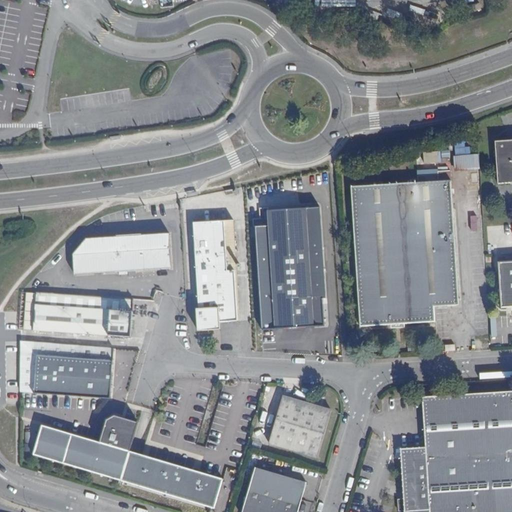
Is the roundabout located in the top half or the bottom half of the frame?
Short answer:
top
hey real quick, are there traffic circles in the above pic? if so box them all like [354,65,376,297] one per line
[238,50,352,165]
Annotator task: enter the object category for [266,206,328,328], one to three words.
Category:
building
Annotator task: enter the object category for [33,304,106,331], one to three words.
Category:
building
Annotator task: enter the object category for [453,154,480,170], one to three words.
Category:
shed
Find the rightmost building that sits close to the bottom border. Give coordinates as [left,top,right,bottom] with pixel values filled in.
[422,391,512,512]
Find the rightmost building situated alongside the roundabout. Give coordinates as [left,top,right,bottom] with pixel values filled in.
[350,180,458,326]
